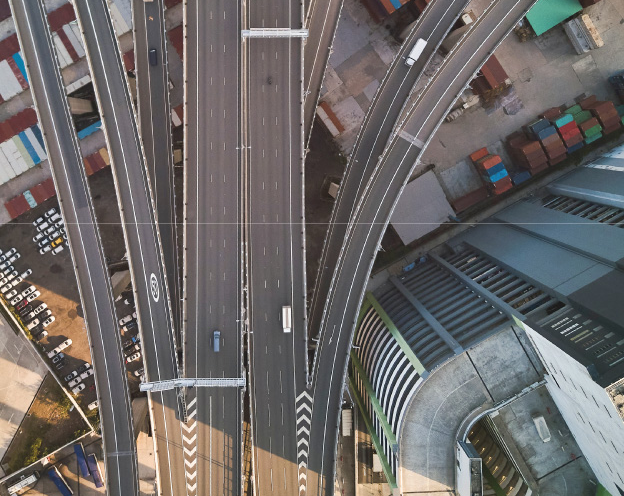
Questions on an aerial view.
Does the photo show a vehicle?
Yes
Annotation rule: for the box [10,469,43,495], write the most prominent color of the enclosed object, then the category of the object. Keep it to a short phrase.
white truck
